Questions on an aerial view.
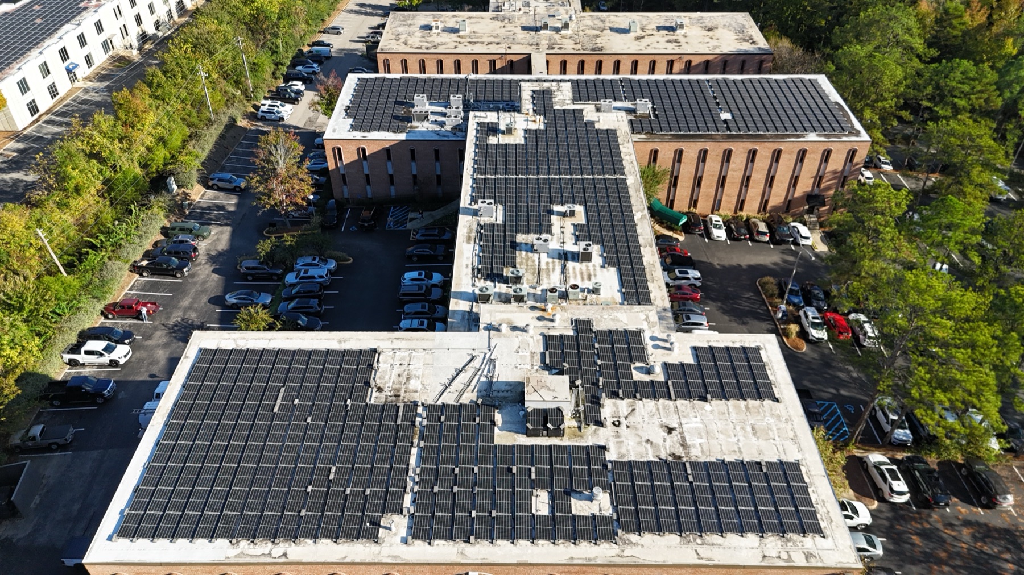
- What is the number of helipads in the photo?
0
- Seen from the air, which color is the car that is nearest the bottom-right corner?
black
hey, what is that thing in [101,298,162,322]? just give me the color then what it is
red truck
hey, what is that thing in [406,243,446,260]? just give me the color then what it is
black car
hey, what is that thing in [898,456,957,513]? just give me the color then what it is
black car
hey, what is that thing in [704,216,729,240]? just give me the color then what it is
white car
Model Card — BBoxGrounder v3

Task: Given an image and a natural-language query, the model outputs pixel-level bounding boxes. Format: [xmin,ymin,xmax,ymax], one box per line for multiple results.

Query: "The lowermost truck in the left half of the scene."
[60,534,98,566]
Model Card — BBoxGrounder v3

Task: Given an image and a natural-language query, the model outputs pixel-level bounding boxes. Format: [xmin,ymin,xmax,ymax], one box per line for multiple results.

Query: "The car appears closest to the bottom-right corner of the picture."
[959,459,1018,512]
